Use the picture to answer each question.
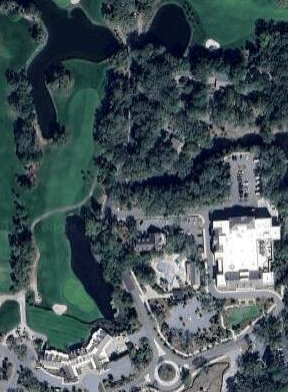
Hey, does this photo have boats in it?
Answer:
No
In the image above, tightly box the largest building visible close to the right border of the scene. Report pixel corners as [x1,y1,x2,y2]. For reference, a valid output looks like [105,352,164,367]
[213,218,281,293]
